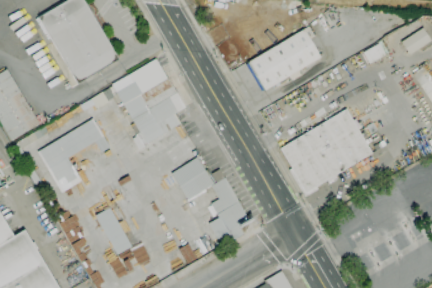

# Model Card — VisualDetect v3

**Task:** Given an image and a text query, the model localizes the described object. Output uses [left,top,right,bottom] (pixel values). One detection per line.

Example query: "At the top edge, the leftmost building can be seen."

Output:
[38,0,117,81]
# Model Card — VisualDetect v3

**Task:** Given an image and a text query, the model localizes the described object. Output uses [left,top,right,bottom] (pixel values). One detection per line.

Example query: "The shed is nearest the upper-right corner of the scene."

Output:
[401,28,432,54]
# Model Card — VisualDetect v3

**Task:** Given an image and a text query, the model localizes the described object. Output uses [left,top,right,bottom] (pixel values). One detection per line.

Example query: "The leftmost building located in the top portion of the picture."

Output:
[0,70,40,142]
